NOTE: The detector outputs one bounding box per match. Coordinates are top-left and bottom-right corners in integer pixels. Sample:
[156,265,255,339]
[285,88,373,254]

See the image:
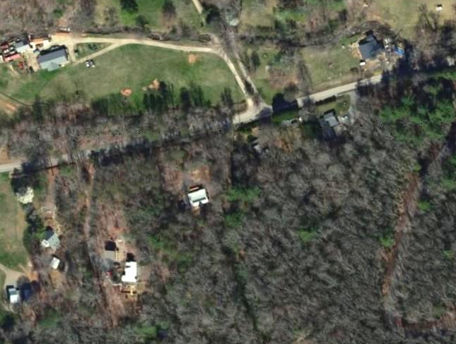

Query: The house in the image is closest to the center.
[185,186,209,208]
